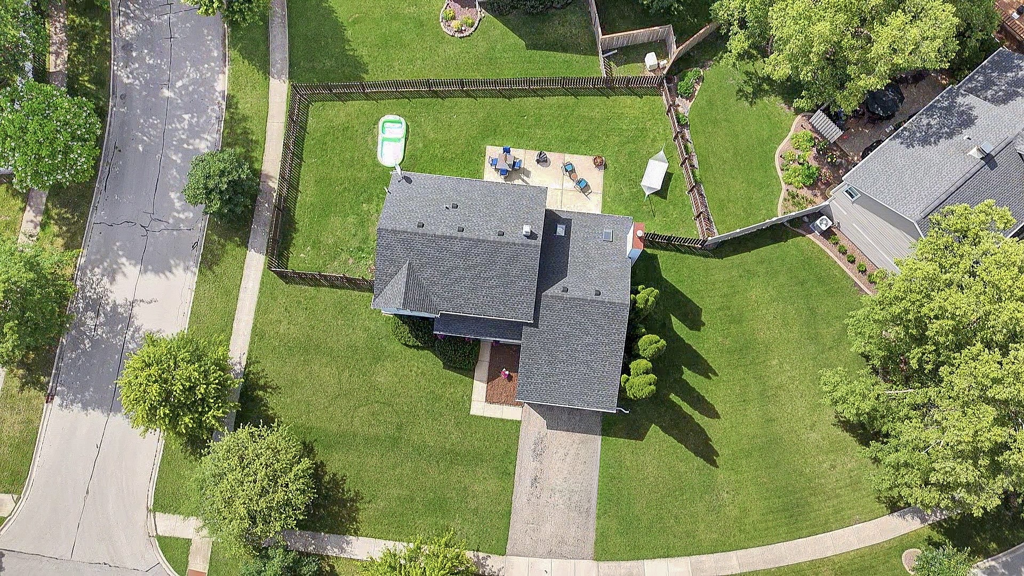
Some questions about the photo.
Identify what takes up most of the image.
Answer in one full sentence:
Most of the picture is covered by grass.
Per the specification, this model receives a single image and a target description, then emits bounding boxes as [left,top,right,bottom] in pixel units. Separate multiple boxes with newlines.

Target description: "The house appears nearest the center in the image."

[372,169,647,417]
